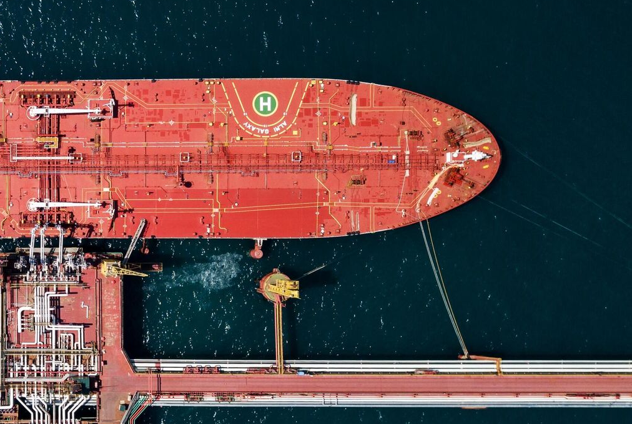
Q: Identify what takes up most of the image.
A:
water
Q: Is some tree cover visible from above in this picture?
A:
No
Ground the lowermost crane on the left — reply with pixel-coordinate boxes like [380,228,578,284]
[102,260,149,278]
